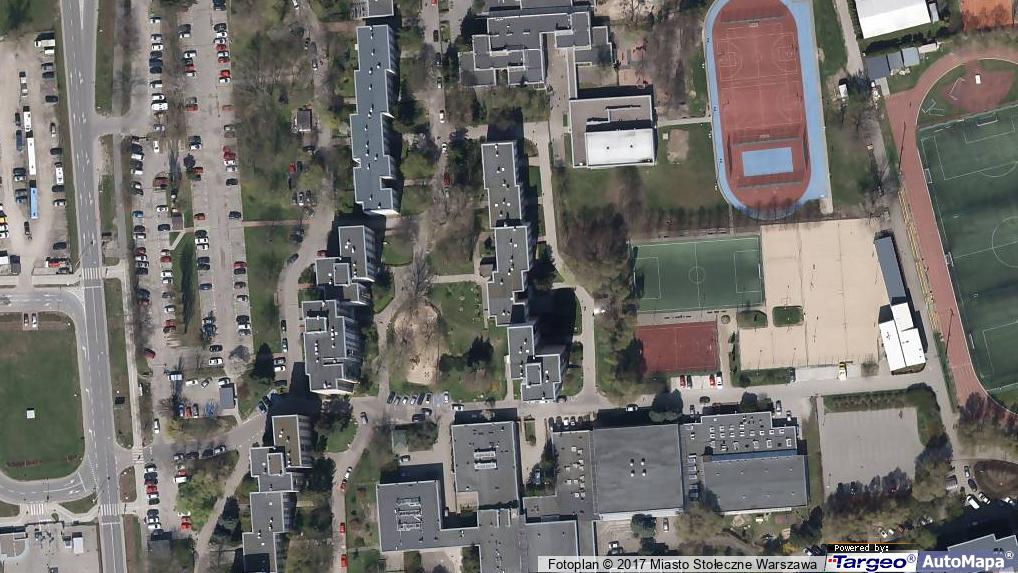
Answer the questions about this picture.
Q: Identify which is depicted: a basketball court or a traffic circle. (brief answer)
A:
basketball court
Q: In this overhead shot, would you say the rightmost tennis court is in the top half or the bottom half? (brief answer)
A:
top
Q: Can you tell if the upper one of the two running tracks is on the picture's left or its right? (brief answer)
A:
right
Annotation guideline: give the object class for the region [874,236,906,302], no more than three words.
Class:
shed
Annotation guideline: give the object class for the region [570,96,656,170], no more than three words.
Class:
building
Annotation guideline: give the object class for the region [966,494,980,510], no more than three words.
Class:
vehicle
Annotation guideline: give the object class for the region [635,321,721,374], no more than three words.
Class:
basketball court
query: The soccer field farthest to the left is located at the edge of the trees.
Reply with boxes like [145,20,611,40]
[633,232,765,314]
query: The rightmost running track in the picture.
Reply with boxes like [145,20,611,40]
[886,46,1018,448]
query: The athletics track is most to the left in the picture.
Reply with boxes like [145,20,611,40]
[704,0,831,221]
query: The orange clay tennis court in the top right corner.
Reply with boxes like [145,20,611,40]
[961,0,1013,32]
